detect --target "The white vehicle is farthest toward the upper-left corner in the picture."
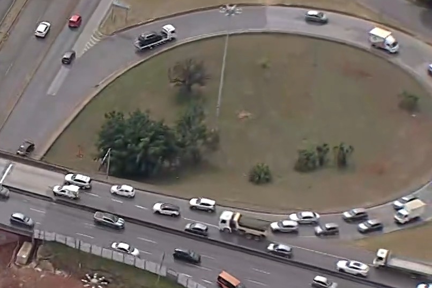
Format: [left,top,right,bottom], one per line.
[35,23,49,37]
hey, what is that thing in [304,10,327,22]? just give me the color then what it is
gray vehicle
